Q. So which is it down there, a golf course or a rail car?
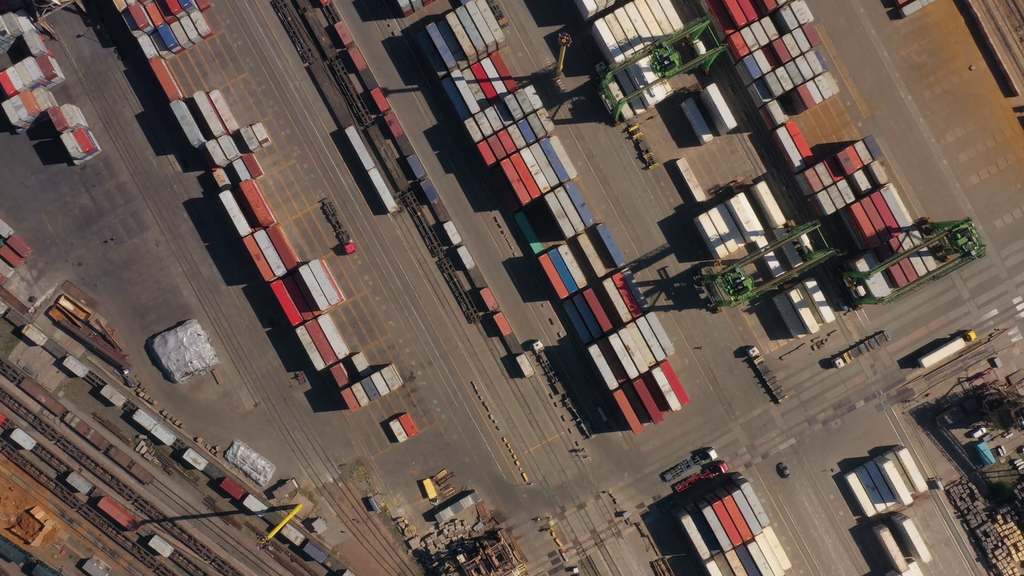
rail car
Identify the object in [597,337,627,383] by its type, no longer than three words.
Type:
shipping container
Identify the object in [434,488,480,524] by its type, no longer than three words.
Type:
shed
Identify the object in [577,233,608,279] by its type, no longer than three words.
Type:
shipping container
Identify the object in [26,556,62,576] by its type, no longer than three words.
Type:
rail car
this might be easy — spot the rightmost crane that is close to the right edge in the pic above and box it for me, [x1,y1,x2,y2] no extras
[838,216,996,313]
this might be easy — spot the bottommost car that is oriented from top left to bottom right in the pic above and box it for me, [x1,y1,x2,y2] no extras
[777,462,792,479]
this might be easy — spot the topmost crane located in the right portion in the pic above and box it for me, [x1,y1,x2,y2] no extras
[594,14,724,125]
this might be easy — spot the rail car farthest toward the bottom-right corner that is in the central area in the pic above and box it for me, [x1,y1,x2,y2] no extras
[494,310,537,378]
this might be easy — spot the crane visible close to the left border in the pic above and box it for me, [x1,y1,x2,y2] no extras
[33,0,88,44]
